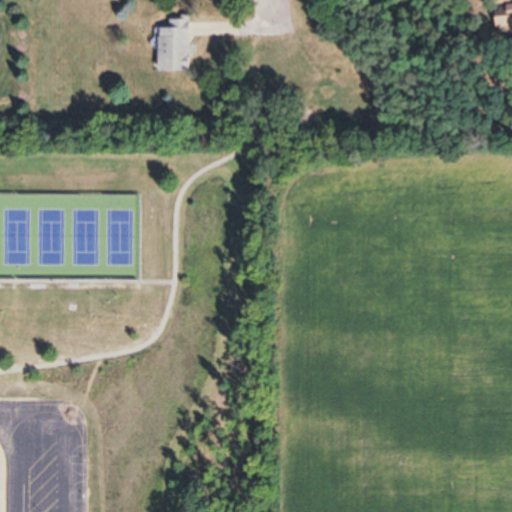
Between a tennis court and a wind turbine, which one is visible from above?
tennis court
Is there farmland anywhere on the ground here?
Yes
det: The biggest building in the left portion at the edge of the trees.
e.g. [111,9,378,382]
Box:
[155,13,190,70]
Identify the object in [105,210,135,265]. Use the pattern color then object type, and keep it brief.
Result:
blue tennis court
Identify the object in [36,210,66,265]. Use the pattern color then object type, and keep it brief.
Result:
blue tennis court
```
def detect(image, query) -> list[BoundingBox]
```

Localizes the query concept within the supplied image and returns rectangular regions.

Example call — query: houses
[496,2,512,30]
[155,13,190,70]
